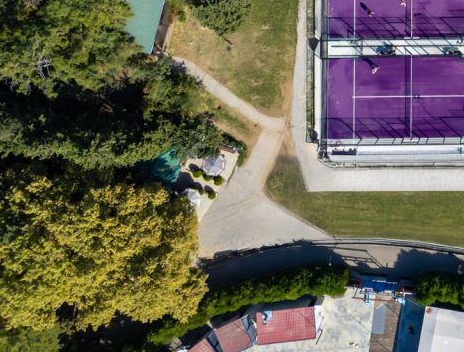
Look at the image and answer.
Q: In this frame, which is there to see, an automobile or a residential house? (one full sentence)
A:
I can see a residential house in this picture.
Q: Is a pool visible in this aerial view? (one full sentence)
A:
No, I can't see a single pool in this photo.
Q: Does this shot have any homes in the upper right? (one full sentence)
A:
No, no home is visible in the upper right.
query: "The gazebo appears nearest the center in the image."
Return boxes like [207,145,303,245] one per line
[204,154,225,175]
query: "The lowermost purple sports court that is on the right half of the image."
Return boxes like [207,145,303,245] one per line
[321,54,464,144]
